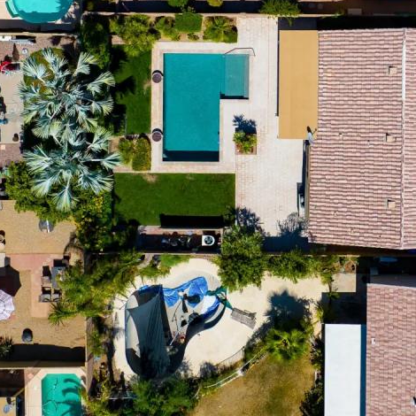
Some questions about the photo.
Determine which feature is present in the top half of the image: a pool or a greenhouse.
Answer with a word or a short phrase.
pool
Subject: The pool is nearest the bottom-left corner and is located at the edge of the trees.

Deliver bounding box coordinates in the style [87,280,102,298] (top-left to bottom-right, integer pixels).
[38,370,85,416]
